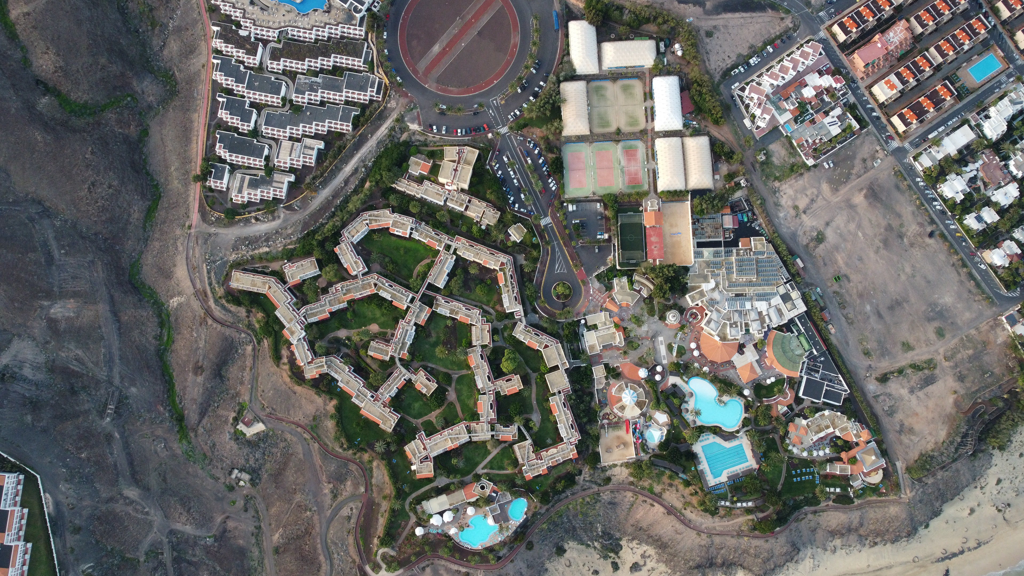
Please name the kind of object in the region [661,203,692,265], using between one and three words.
sports court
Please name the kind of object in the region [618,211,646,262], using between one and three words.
soccer field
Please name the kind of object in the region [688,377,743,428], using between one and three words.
swimming pool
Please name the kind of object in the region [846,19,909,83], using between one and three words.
house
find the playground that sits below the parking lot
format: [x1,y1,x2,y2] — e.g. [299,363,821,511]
[599,417,642,464]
